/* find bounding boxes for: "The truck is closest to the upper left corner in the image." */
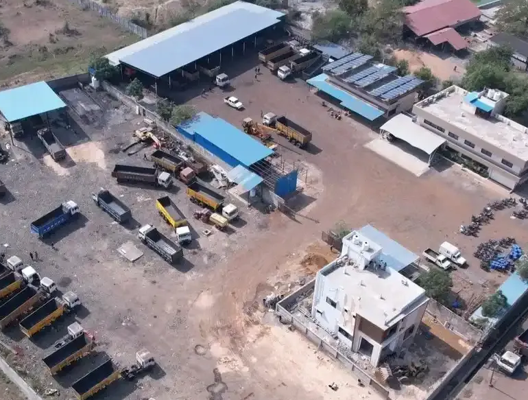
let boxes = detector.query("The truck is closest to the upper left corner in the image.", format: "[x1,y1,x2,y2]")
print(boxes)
[4,117,30,147]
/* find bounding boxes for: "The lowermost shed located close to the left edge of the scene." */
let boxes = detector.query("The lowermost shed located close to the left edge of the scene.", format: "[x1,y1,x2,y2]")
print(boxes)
[0,82,69,145]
